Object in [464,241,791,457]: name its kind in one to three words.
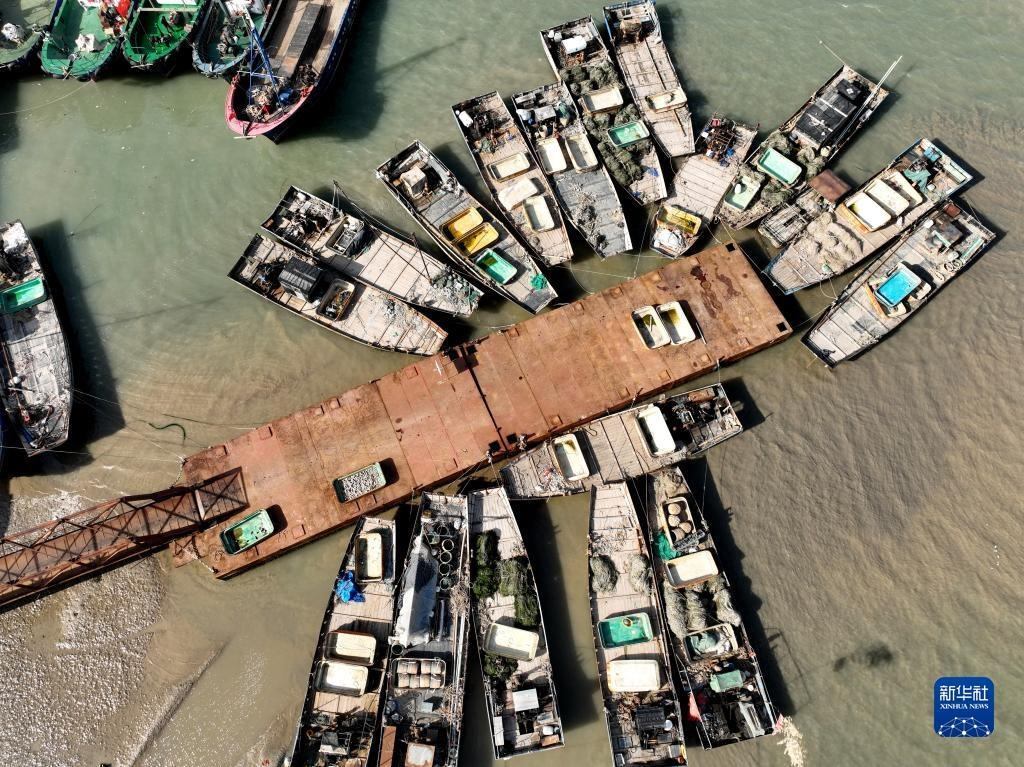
pier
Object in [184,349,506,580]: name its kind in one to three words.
pier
